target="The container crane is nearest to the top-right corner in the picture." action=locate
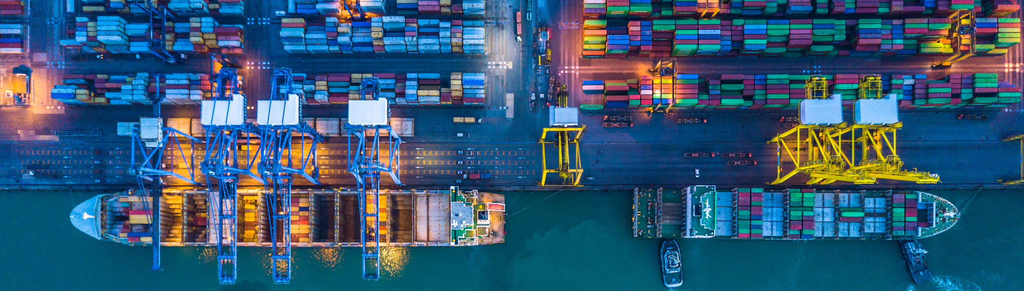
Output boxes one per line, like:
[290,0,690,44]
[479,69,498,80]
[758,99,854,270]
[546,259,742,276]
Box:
[937,9,976,66]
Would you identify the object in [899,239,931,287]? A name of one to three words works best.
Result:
boat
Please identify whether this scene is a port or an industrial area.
port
